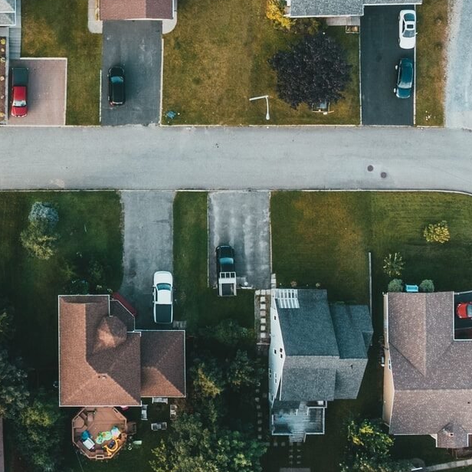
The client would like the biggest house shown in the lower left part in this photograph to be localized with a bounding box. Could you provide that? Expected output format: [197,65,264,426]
[58,295,187,407]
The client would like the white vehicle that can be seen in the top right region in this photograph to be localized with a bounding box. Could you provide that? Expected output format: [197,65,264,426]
[398,10,418,49]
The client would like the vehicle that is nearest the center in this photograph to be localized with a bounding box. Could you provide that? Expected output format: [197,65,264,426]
[216,246,237,297]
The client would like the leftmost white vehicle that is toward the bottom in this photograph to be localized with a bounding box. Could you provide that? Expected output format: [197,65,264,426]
[153,271,175,323]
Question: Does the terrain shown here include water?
No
